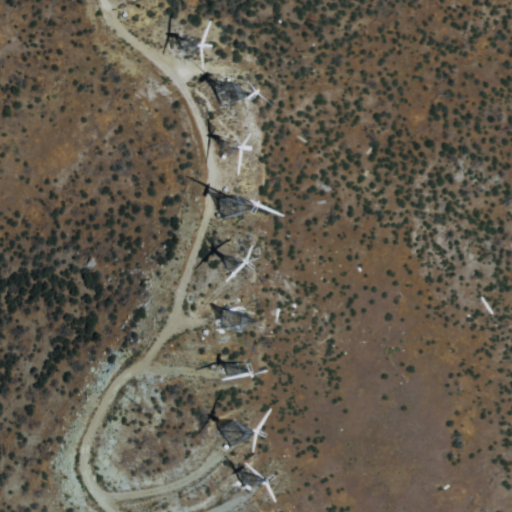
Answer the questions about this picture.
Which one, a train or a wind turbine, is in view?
wind turbine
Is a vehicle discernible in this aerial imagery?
No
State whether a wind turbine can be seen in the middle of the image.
Yes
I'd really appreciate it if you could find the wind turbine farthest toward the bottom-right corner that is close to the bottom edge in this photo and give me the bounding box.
[242,464,276,502]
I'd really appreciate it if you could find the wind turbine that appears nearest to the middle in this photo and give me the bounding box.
[222,245,260,282]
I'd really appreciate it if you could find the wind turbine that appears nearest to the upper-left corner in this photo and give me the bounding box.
[178,20,214,70]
